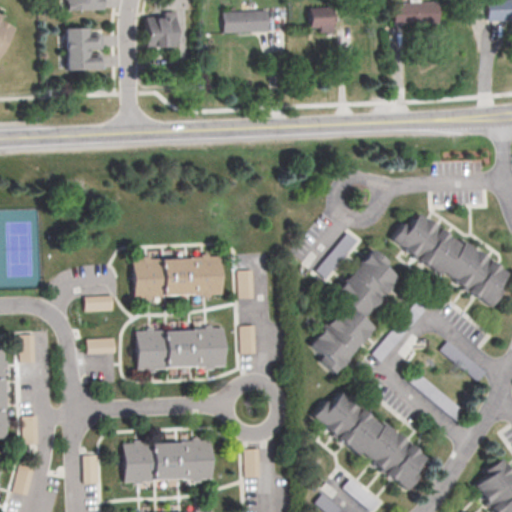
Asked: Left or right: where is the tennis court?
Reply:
left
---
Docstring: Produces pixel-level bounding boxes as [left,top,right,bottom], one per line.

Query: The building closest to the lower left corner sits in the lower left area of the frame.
[12,466,34,496]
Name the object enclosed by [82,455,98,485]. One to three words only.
building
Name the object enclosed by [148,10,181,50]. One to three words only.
house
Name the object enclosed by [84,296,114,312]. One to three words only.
building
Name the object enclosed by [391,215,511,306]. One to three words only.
house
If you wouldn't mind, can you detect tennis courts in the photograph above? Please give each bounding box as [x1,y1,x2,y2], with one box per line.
[0,210,39,289]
